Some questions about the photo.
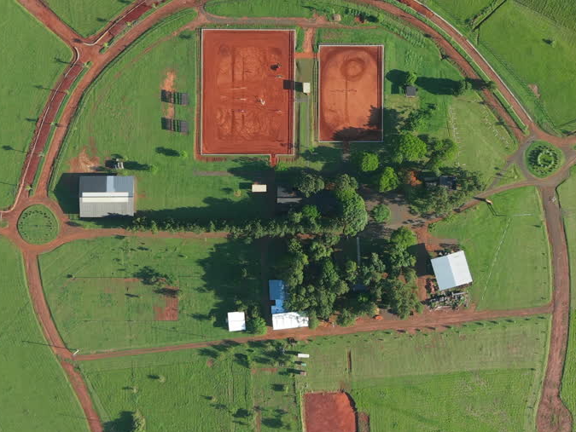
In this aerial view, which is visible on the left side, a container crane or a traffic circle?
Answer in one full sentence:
There is a traffic circle on the left side.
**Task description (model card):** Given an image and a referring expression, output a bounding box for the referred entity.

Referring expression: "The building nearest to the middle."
[277,185,304,204]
